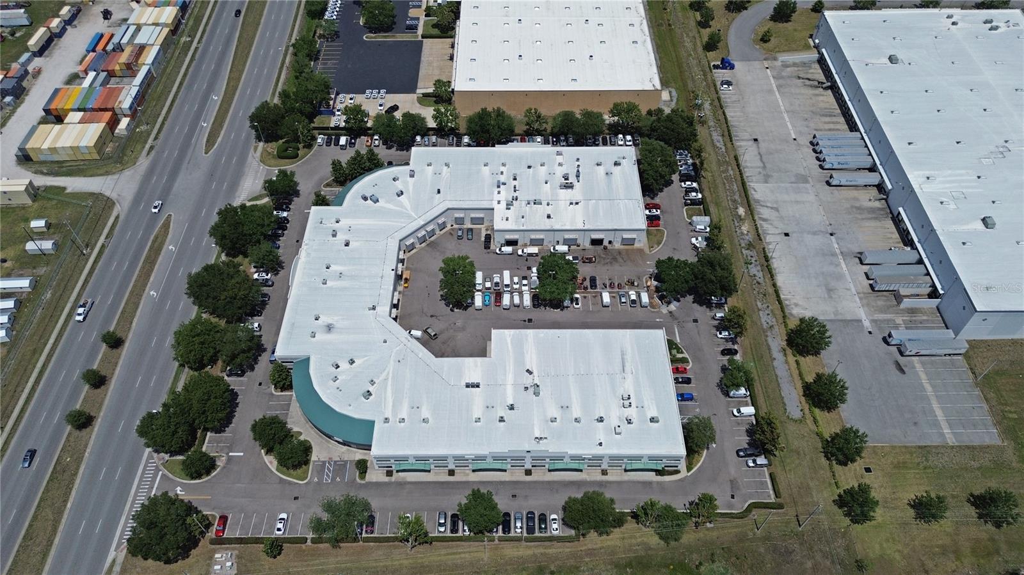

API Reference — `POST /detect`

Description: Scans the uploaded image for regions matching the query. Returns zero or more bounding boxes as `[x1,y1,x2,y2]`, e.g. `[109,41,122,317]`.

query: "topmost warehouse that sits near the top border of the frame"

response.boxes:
[453,0,661,116]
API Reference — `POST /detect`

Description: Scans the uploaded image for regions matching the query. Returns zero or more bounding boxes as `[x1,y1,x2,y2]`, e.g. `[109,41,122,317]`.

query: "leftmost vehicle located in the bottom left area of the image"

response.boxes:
[21,447,37,468]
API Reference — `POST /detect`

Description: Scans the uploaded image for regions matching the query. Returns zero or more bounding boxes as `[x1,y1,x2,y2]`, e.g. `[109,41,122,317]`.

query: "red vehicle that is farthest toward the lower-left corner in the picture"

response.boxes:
[214,515,229,537]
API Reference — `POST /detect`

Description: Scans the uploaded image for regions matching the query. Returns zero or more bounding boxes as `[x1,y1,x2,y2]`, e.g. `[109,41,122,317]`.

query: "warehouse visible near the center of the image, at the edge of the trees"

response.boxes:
[275,144,686,470]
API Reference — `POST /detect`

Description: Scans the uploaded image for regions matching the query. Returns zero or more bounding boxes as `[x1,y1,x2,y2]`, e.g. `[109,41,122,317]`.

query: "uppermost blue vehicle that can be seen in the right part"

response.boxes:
[713,57,734,70]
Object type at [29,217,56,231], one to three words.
shed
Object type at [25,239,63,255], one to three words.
shed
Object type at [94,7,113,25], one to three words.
work vehicle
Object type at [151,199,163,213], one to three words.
vehicle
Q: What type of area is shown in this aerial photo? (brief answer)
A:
industrial area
